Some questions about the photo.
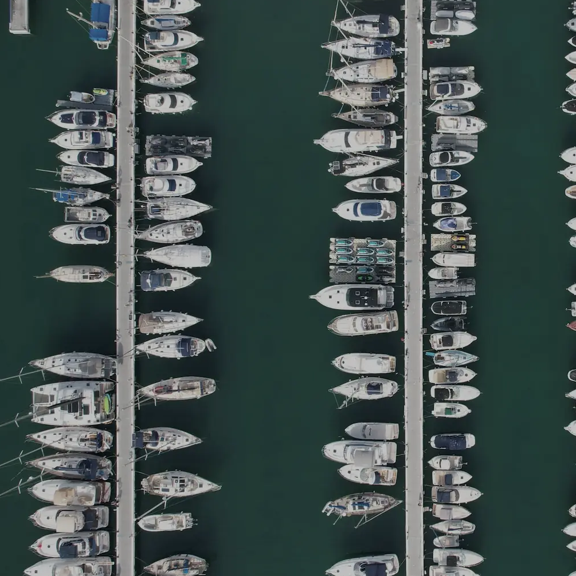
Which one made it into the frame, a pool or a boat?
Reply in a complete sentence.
Looking from above, you can make out a boat.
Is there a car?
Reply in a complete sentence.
No, no car is visible in the scene.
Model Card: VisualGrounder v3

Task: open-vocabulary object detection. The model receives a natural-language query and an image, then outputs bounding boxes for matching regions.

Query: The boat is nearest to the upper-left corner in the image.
[66,0,116,52]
